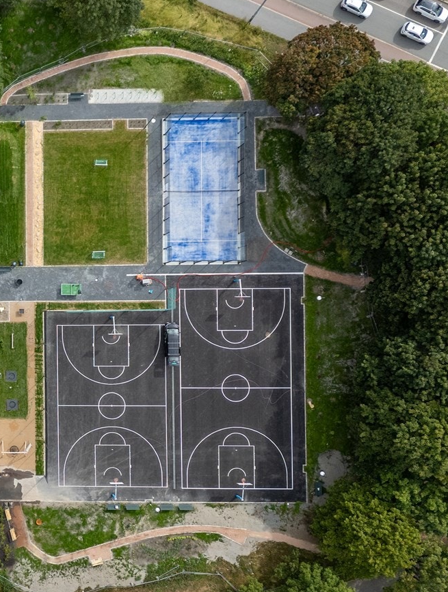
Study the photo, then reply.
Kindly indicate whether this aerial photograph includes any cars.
Yes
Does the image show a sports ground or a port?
sports ground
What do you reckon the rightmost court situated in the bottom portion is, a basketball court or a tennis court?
basketball court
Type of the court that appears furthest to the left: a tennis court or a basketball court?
basketball court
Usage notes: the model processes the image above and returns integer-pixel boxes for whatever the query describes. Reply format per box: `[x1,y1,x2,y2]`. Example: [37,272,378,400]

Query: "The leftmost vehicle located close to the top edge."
[338,0,373,19]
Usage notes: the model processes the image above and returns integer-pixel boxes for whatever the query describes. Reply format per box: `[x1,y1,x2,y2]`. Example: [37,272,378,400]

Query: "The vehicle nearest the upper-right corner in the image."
[410,0,448,24]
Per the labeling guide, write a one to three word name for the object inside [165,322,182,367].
vehicle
